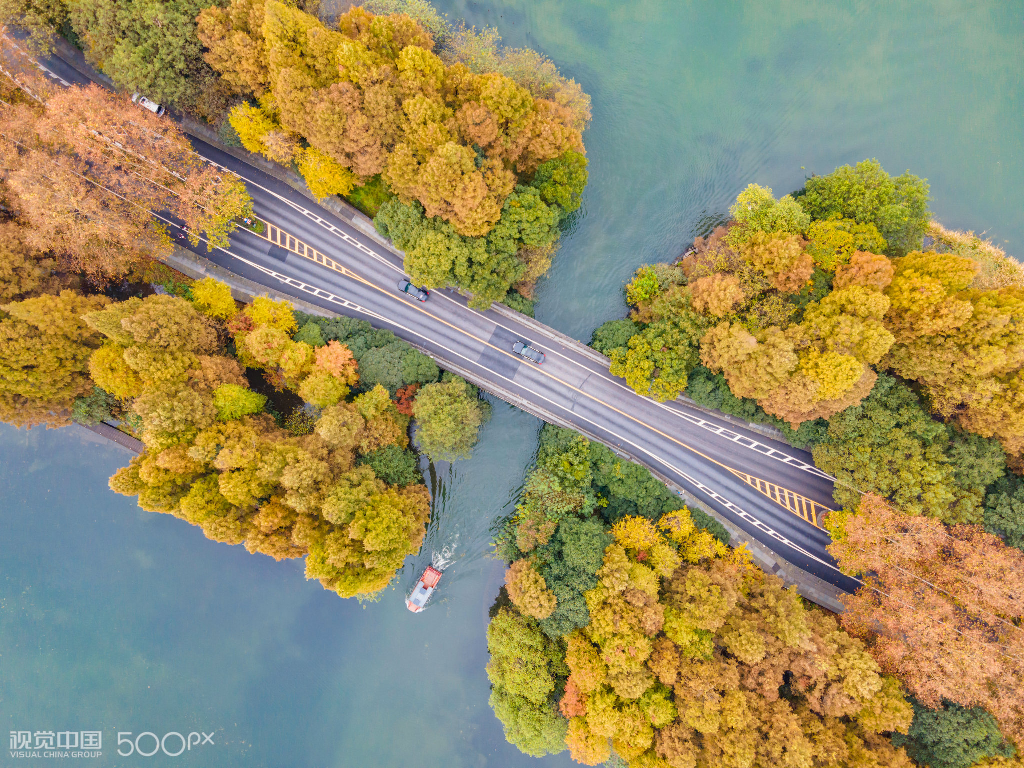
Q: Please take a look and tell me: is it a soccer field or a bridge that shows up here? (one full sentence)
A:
This aerial view contains a bridge.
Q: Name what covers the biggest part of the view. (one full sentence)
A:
The largest share of the image is taken up by trees.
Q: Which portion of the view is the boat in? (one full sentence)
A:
The boat is in the bottom part of the image.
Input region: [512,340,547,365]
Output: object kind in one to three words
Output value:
car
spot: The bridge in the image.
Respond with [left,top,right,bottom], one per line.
[436,298,619,459]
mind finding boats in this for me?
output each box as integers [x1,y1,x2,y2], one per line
[409,567,442,614]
